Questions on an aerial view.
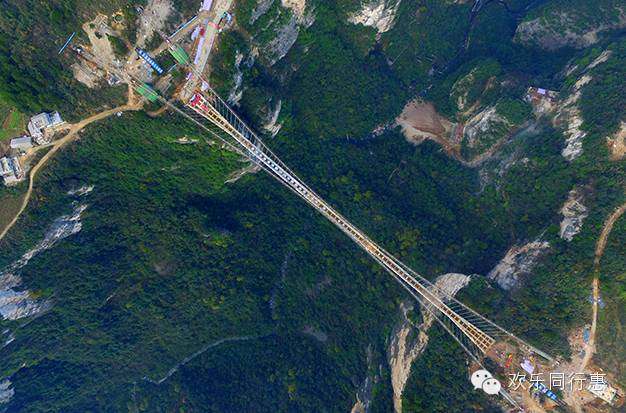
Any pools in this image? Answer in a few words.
No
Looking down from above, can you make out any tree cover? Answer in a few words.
Yes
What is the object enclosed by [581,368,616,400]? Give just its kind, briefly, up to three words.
building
